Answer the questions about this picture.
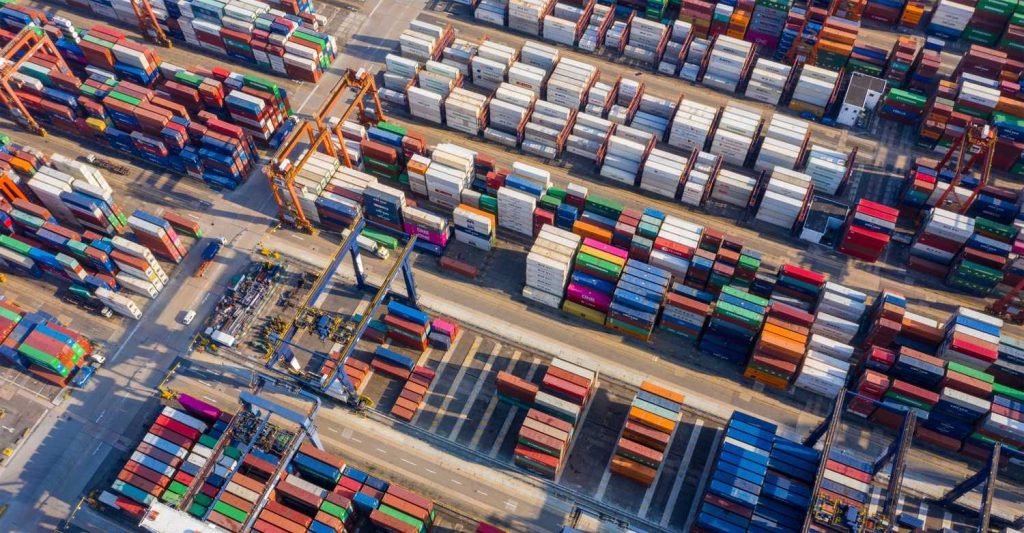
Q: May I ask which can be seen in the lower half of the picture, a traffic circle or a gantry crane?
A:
gantry crane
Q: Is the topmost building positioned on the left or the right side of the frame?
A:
right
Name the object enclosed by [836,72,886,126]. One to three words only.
building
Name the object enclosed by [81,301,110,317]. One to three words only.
vehicle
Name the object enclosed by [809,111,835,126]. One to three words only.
vehicle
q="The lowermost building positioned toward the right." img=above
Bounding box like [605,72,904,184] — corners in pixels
[799,195,849,245]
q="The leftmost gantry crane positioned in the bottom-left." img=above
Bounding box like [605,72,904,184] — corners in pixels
[134,378,329,533]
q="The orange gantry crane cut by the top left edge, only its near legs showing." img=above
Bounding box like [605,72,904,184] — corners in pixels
[124,0,174,45]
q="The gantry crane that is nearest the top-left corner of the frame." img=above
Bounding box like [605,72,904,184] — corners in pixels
[0,25,82,135]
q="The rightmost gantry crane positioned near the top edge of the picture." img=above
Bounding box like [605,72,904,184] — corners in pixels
[784,0,838,67]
